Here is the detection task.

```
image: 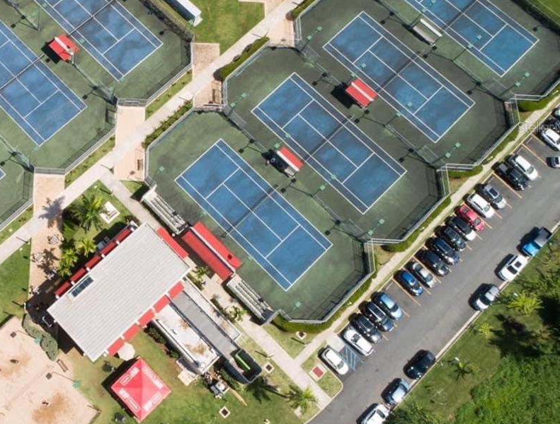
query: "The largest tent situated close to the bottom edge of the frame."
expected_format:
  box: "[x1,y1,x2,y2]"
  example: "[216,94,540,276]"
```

[111,358,172,422]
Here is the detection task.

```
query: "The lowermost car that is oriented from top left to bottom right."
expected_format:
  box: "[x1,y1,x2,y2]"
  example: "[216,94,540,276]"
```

[318,344,349,375]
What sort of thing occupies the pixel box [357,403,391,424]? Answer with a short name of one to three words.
car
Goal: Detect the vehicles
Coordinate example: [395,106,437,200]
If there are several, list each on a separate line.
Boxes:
[382,378,411,404]
[393,269,424,298]
[465,189,496,219]
[476,180,507,209]
[519,227,556,256]
[418,247,450,278]
[549,155,560,168]
[404,350,437,379]
[357,403,391,424]
[361,301,394,332]
[343,325,376,358]
[438,224,469,252]
[454,203,485,231]
[318,344,349,375]
[494,159,530,192]
[474,283,501,309]
[547,113,560,133]
[508,153,539,182]
[372,291,403,321]
[498,255,529,281]
[350,312,382,343]
[538,125,560,153]
[406,258,436,288]
[446,211,477,241]
[429,236,462,266]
